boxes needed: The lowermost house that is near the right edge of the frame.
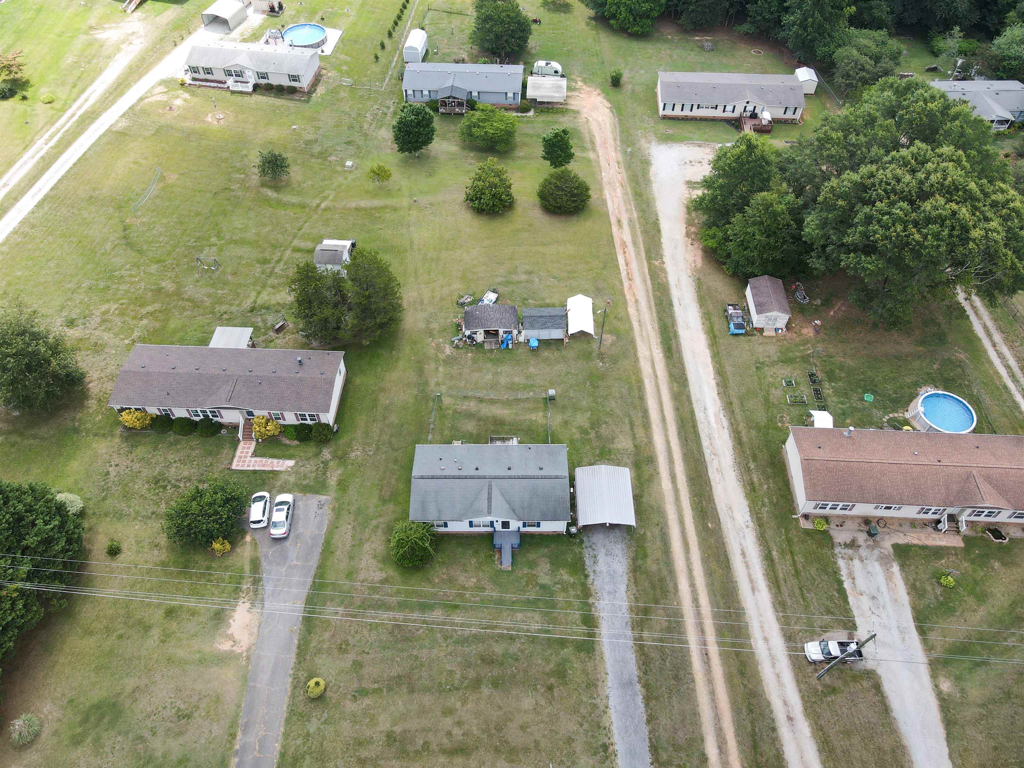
[783,426,1024,534]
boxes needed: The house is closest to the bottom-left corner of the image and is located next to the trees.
[107,345,345,441]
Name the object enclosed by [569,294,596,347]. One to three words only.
tent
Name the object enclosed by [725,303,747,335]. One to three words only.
truck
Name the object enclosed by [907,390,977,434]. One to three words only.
swimming pool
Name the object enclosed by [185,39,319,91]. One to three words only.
house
